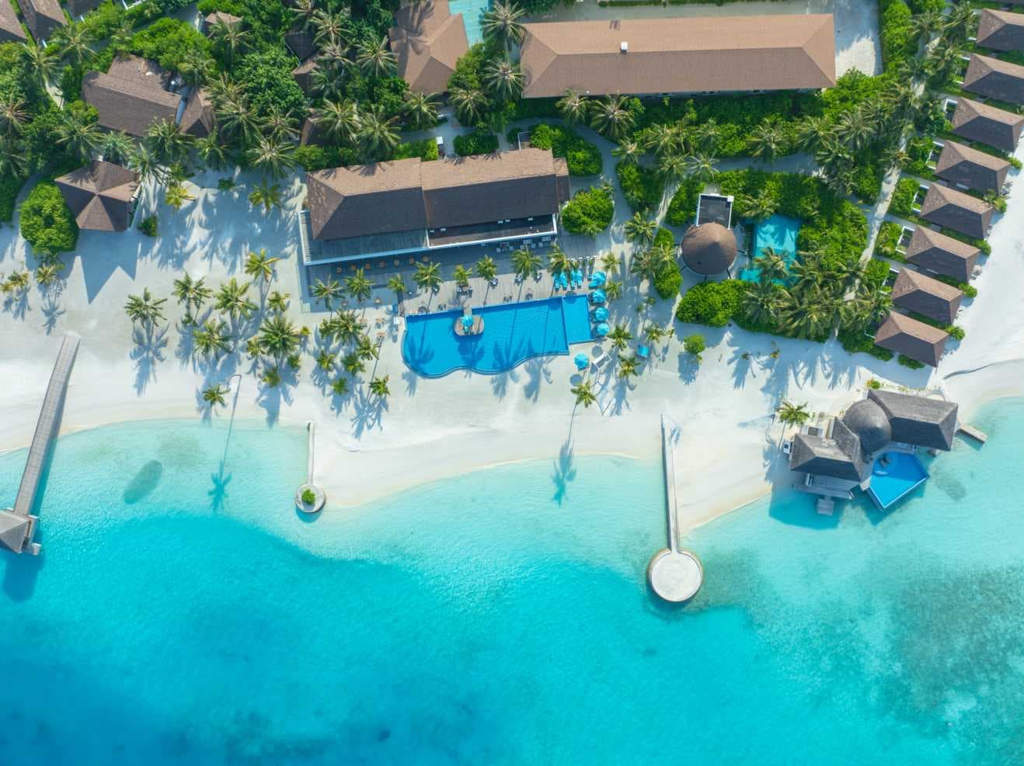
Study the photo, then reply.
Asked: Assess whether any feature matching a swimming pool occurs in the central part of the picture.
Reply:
Yes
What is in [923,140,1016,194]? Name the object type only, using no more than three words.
house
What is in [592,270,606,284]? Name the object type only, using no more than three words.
umbrella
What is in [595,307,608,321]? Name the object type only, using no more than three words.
umbrella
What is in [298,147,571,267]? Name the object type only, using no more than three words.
building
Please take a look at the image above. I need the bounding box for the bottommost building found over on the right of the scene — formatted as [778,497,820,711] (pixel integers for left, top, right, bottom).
[782,384,959,515]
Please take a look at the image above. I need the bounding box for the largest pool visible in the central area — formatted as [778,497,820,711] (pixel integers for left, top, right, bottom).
[397,295,590,382]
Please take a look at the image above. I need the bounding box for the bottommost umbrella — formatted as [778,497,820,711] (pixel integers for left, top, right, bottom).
[574,354,588,369]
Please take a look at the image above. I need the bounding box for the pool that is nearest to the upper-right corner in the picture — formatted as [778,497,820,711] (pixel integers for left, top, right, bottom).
[739,213,799,288]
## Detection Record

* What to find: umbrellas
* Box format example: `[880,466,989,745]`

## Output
[597,323,609,335]
[462,315,473,327]
[595,307,608,321]
[570,269,582,281]
[592,270,606,284]
[555,271,567,283]
[574,354,588,369]
[592,289,606,303]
